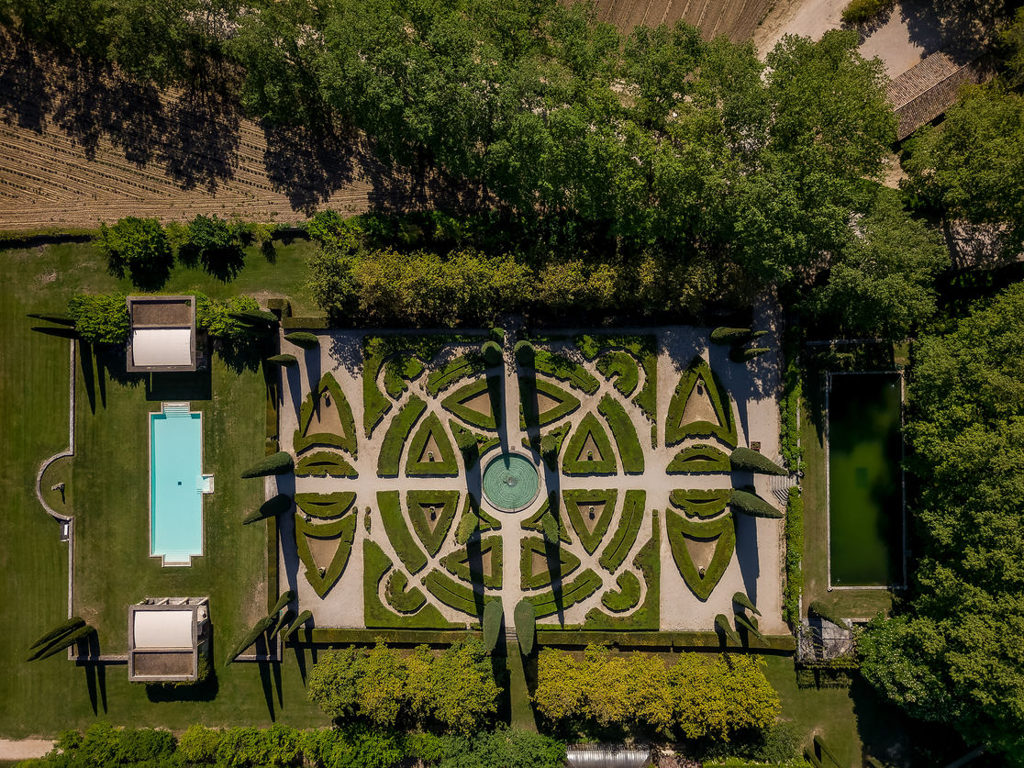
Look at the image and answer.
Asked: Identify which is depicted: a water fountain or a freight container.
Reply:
water fountain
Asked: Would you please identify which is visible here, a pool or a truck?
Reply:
pool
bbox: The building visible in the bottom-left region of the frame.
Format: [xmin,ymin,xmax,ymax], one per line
[128,598,208,681]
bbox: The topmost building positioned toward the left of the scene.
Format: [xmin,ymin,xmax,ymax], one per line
[127,296,206,372]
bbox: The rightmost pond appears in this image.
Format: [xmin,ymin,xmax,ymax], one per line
[826,371,907,590]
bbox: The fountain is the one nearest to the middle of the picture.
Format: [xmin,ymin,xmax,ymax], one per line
[480,450,542,512]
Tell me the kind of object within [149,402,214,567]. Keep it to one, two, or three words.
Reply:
swimming pool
